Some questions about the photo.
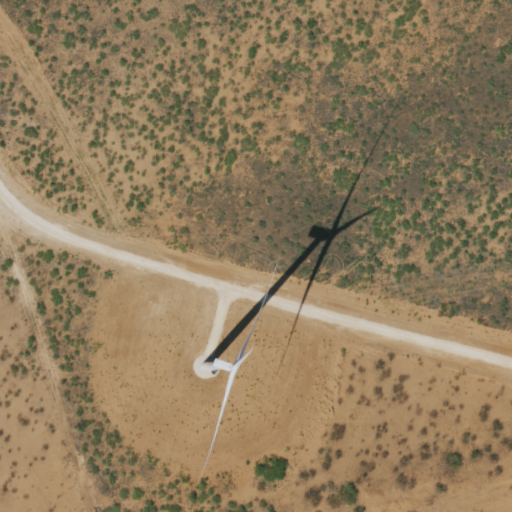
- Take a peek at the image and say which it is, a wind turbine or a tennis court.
wind turbine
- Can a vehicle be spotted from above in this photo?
No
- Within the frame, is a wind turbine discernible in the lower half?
Yes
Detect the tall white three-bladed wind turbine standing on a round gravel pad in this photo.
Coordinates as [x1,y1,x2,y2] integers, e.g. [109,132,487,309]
[200,266,278,478]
